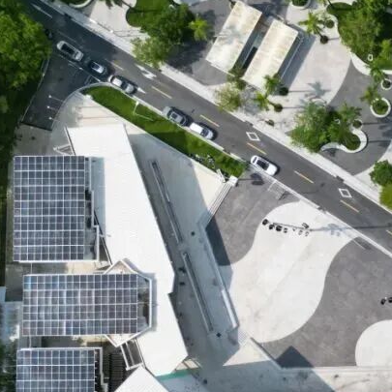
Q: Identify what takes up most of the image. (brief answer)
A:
paved ground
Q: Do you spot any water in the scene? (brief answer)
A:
No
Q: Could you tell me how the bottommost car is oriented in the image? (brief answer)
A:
at an angle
